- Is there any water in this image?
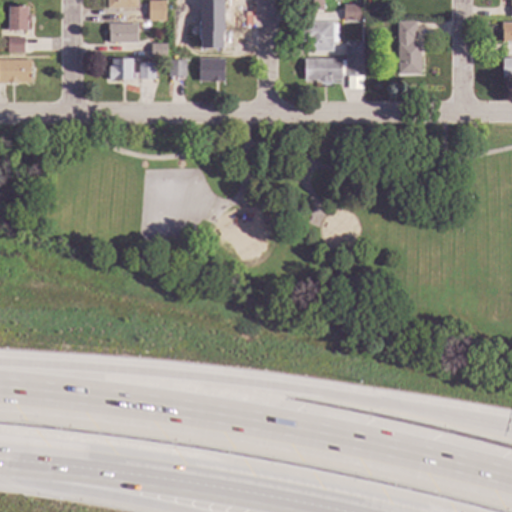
No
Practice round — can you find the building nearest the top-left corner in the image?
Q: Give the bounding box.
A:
[8,3,30,30]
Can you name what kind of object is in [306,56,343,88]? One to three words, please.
house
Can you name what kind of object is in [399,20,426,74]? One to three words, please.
house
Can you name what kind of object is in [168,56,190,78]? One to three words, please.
building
